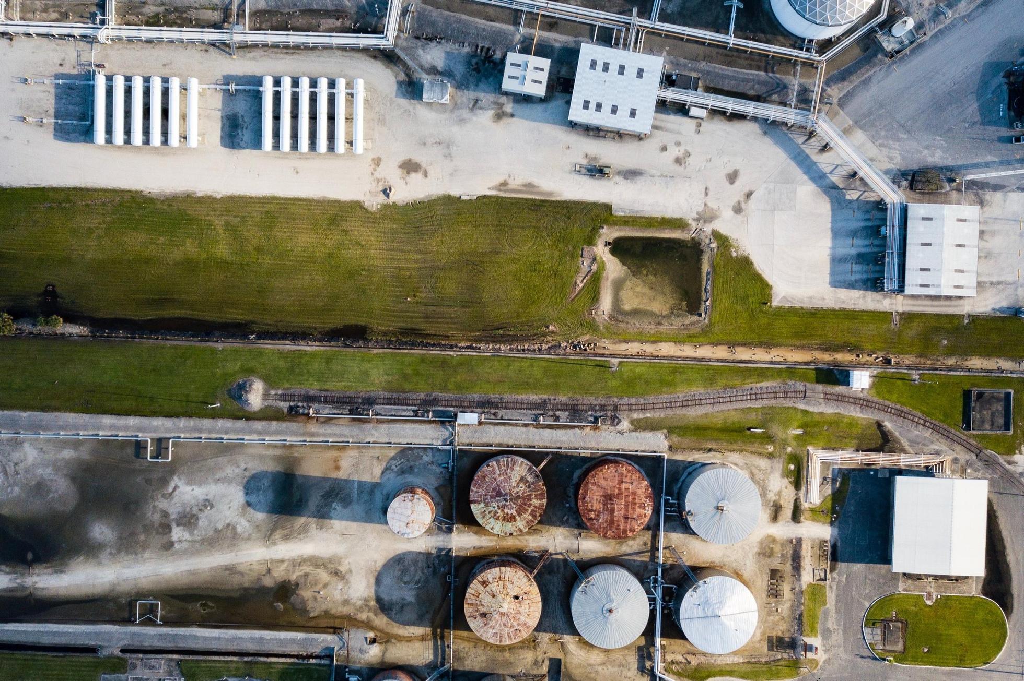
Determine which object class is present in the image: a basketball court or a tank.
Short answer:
tank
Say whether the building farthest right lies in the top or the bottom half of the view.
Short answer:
bottom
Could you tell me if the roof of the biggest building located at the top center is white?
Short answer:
Yes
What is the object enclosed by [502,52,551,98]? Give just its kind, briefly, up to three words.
building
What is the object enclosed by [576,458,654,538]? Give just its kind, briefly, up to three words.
storage tank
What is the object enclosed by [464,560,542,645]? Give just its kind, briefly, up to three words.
storage tank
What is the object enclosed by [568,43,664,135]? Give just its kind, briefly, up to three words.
building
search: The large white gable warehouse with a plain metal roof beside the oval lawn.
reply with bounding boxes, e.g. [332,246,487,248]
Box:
[886,476,988,576]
